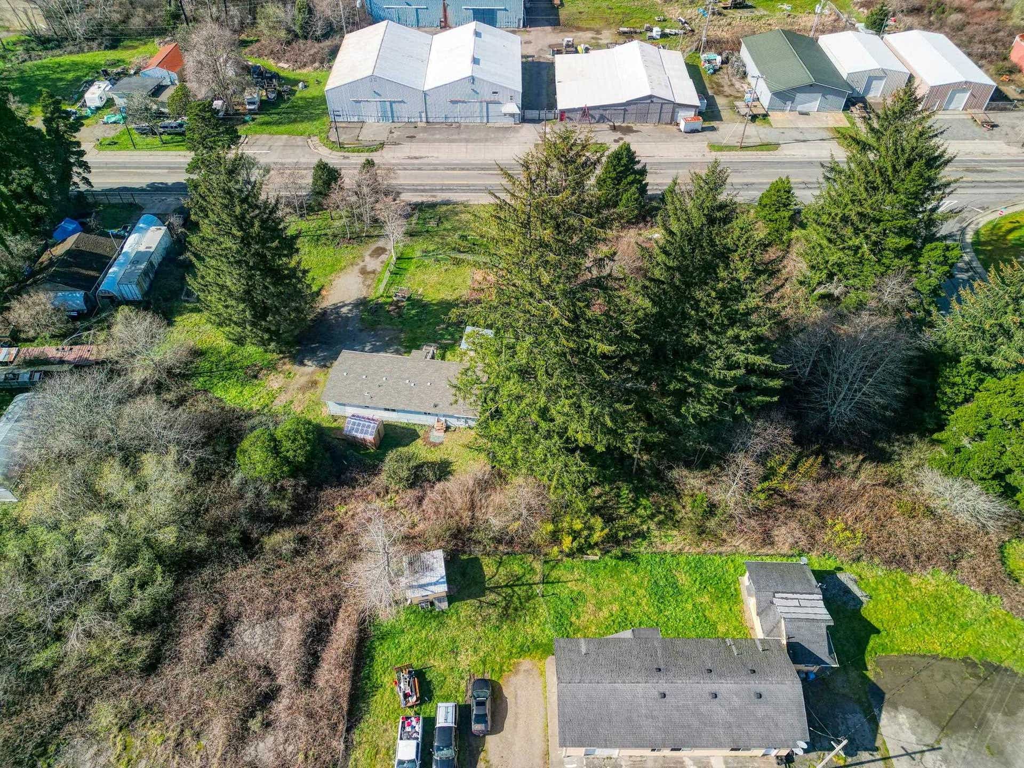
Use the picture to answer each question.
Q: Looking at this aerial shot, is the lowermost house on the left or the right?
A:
right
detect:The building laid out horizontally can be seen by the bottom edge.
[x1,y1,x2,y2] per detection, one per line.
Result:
[555,625,813,755]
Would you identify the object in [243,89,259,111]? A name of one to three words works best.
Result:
vehicle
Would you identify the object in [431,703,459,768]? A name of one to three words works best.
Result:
truck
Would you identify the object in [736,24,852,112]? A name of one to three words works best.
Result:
shed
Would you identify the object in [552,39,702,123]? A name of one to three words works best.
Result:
building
